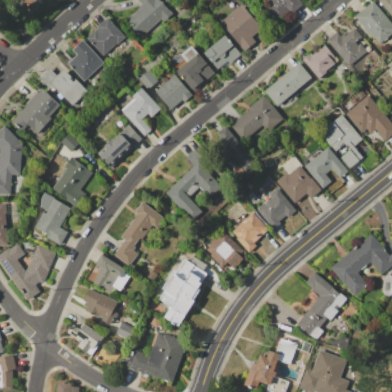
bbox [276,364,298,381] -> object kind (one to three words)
swimming pool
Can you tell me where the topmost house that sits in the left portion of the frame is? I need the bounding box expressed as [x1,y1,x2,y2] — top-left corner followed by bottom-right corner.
[130,0,174,35]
